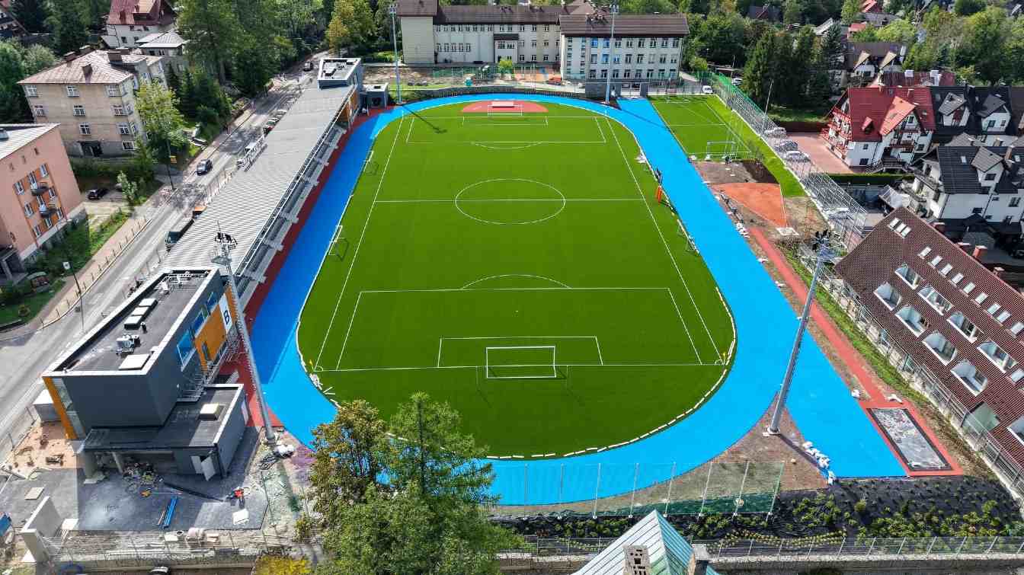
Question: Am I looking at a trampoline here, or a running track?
running track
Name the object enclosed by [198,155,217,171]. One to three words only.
car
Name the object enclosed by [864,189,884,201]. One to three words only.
vehicle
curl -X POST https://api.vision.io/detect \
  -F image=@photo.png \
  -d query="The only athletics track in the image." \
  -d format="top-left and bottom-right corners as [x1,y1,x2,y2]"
[249,93,782,506]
